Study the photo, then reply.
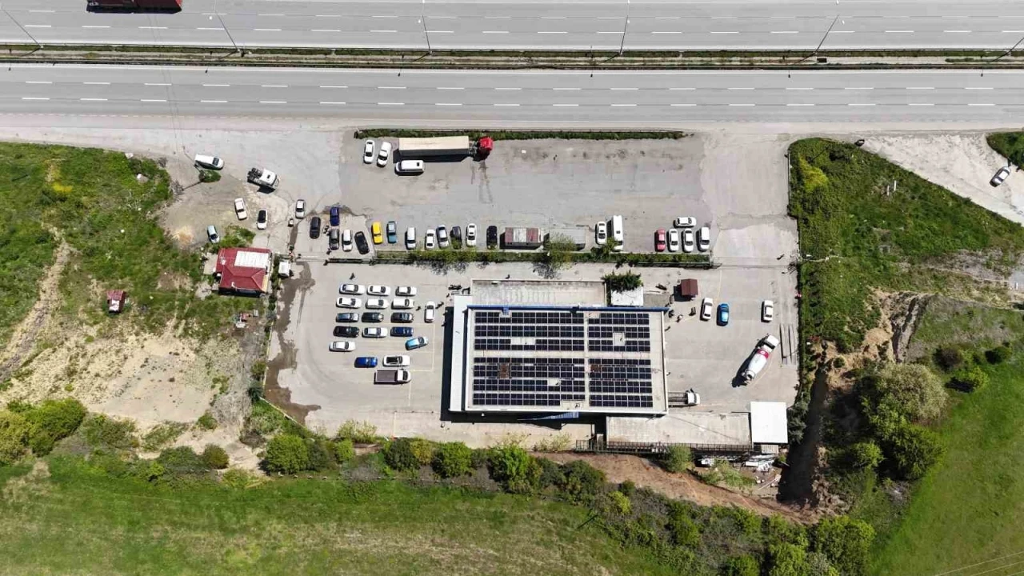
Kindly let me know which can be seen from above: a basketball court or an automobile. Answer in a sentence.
This aerial view contains an automobile.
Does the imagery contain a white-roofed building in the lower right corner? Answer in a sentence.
Yes, a white-roofed building appears in the lower right corner.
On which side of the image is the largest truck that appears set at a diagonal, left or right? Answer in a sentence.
The largest truck that appears set at a diagonal is on the right side of the image.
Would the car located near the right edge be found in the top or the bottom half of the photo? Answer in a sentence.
The top half of the photo is where the car located near the right edge is.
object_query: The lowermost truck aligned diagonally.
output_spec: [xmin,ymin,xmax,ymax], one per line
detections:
[743,332,782,380]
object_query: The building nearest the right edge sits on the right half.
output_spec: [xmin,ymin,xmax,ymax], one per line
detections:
[746,402,788,456]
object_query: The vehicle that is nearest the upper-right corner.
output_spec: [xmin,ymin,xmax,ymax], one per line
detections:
[989,165,1010,187]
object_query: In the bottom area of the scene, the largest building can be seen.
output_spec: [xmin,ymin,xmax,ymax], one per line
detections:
[451,280,668,420]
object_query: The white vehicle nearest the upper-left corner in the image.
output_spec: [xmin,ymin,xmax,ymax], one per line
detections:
[193,152,224,171]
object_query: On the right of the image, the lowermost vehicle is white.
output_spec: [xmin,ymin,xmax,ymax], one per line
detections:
[668,391,700,405]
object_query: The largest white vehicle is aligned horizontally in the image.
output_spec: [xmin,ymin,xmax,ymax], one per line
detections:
[398,132,490,154]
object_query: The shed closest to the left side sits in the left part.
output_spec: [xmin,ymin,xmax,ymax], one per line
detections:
[108,290,127,312]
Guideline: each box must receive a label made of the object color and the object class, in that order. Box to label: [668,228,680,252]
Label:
white vehicle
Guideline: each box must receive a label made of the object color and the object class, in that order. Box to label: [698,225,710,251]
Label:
white vehicle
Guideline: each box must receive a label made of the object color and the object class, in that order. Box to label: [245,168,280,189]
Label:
white truck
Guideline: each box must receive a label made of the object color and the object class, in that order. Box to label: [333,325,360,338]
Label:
black vehicle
